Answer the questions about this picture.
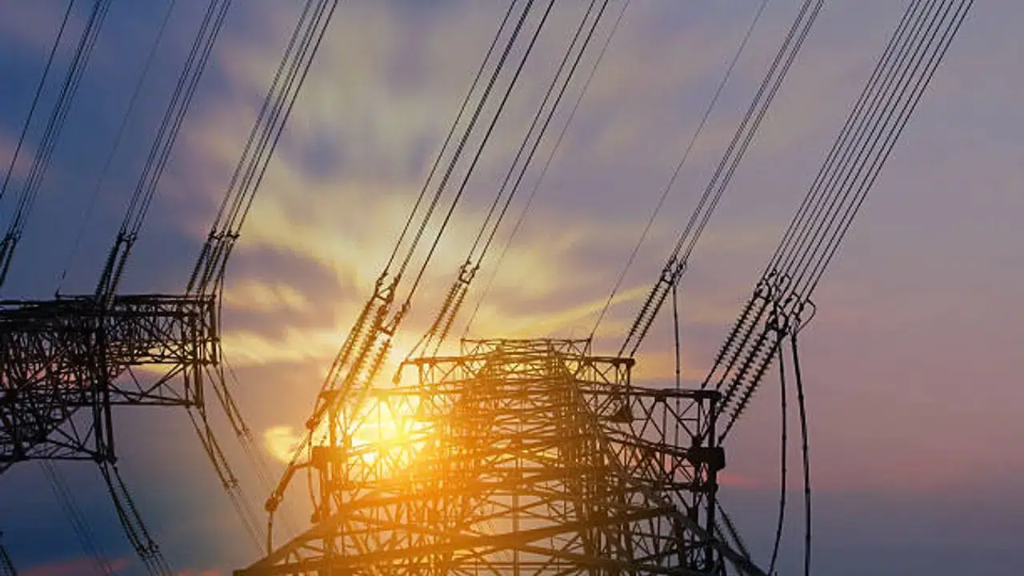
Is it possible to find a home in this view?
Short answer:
No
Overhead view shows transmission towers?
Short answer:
Yes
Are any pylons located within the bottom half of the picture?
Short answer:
Yes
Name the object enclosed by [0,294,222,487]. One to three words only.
pylon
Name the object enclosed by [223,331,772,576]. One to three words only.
pylon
